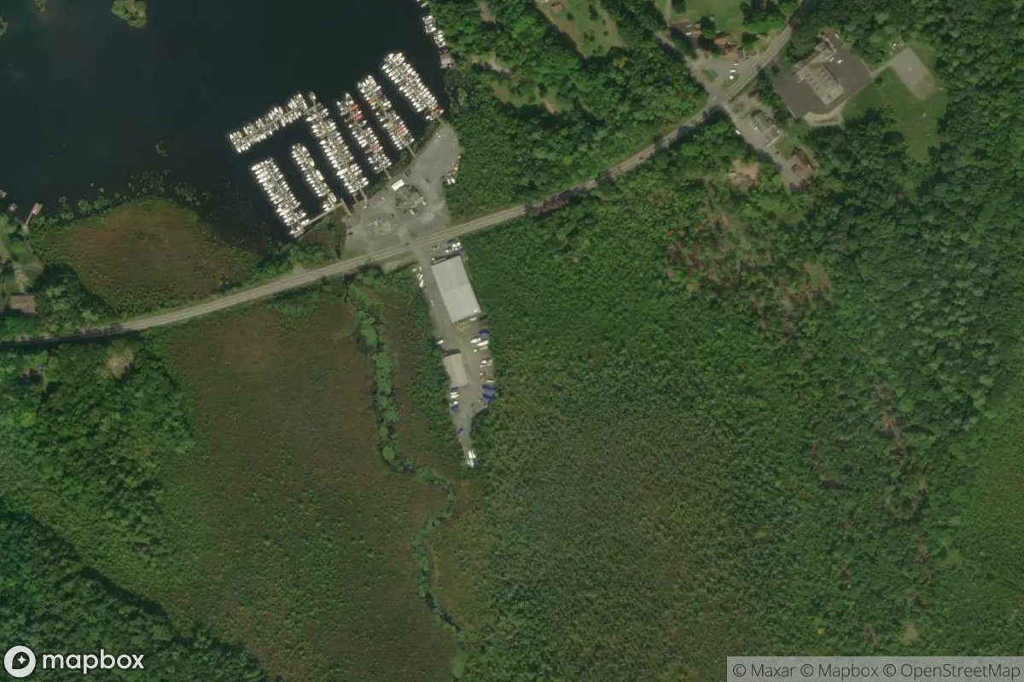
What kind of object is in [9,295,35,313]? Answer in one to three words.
house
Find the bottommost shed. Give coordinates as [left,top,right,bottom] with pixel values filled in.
[444,352,469,387]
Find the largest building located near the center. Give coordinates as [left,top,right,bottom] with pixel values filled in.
[431,255,481,322]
